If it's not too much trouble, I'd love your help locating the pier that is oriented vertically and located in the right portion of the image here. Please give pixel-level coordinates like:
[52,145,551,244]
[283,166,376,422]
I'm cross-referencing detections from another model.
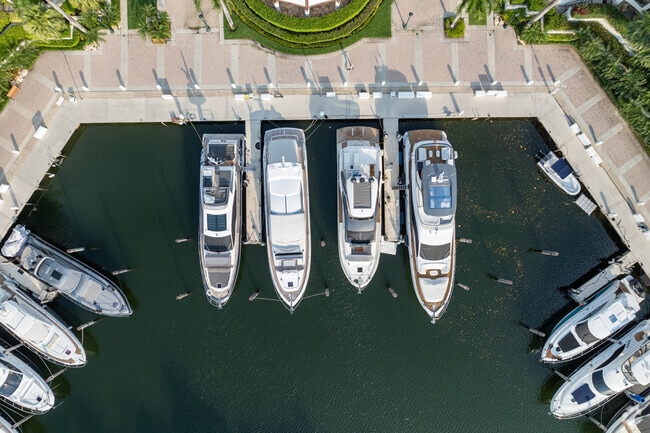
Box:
[381,120,402,241]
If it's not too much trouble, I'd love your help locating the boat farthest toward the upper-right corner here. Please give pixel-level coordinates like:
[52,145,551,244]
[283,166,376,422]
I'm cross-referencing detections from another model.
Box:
[534,149,582,192]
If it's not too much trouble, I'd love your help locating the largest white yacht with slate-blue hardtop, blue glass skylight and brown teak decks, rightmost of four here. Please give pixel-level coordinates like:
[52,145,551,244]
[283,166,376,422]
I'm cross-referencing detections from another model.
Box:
[399,131,456,323]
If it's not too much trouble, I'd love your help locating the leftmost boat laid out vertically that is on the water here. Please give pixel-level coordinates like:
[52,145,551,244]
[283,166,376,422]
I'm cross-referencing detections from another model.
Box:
[199,133,246,312]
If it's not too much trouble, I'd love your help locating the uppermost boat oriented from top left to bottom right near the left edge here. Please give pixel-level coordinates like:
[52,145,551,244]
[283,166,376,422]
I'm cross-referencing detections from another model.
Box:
[18,232,135,316]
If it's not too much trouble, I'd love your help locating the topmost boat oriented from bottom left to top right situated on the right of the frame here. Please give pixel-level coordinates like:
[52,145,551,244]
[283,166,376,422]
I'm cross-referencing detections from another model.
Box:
[537,270,649,364]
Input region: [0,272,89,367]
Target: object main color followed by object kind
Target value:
white boat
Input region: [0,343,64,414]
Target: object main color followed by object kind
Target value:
white boat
